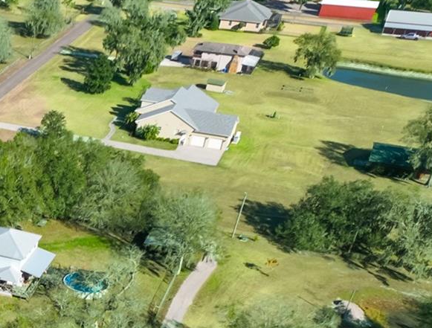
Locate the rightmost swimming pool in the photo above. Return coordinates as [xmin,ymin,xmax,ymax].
[60,269,114,299]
